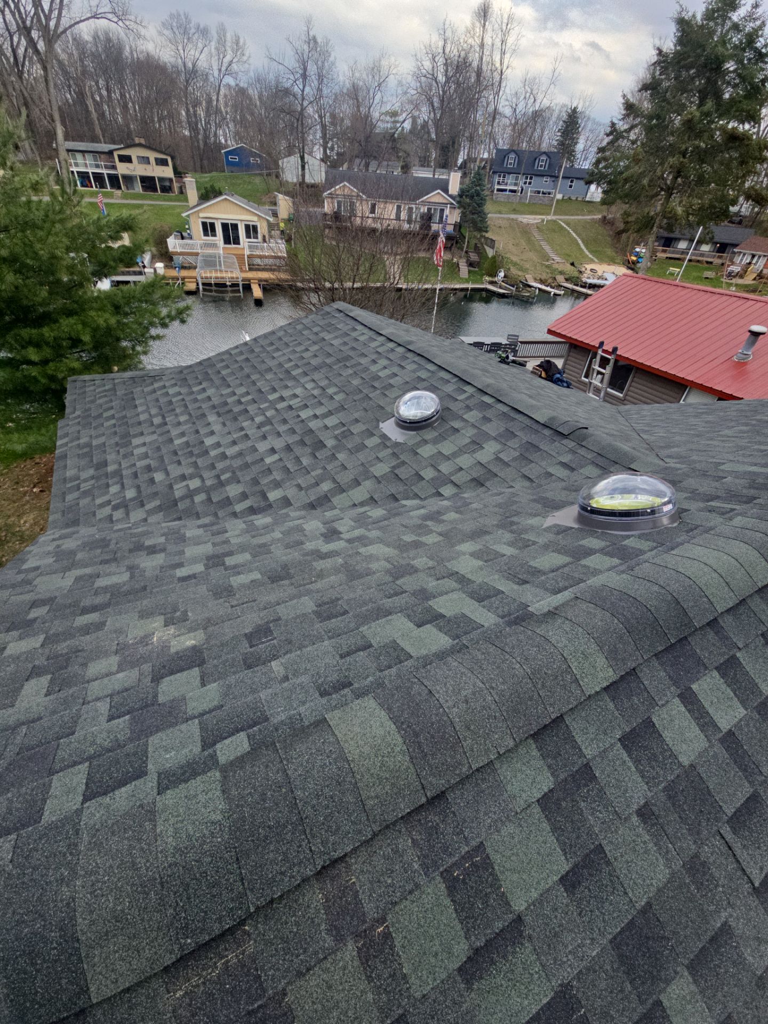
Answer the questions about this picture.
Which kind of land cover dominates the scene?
buildings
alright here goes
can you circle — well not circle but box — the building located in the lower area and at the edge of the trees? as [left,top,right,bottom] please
[0,297,768,1024]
